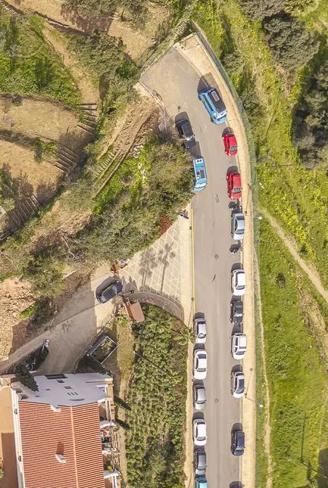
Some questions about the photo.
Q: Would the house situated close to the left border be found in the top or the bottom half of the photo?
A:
bottom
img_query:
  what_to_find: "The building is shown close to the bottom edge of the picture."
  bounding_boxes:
[0,373,115,488]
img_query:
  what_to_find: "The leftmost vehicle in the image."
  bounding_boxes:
[97,280,123,301]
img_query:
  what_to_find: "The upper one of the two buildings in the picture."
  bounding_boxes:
[118,294,146,321]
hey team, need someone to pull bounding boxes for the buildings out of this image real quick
[118,294,146,321]
[0,373,115,488]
